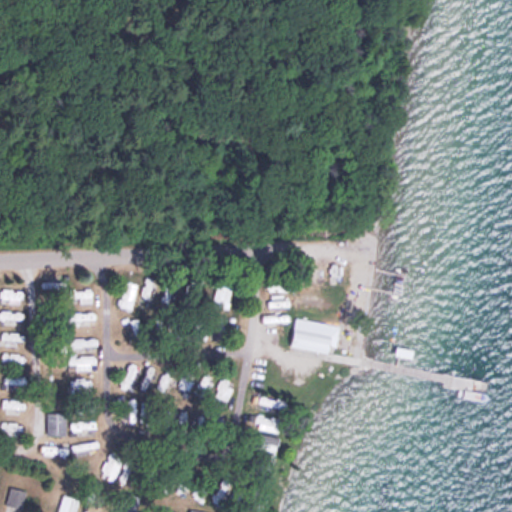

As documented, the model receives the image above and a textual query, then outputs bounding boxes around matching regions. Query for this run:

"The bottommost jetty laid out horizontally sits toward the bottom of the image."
[361,358,488,392]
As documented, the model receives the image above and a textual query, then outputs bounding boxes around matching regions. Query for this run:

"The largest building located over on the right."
[292,319,340,355]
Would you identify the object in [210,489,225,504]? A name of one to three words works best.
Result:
vehicle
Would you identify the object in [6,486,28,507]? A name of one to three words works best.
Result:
house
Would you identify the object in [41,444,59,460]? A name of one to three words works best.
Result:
vehicle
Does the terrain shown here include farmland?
No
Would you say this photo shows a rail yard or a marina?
marina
